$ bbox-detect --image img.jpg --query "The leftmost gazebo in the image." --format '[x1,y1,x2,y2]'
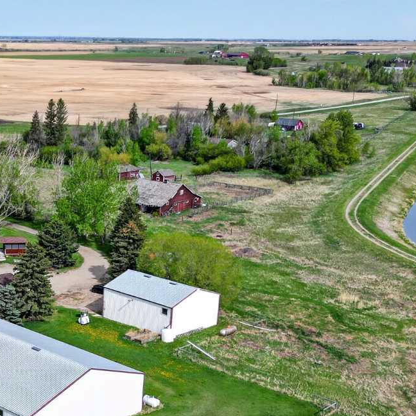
[0,235,30,255]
